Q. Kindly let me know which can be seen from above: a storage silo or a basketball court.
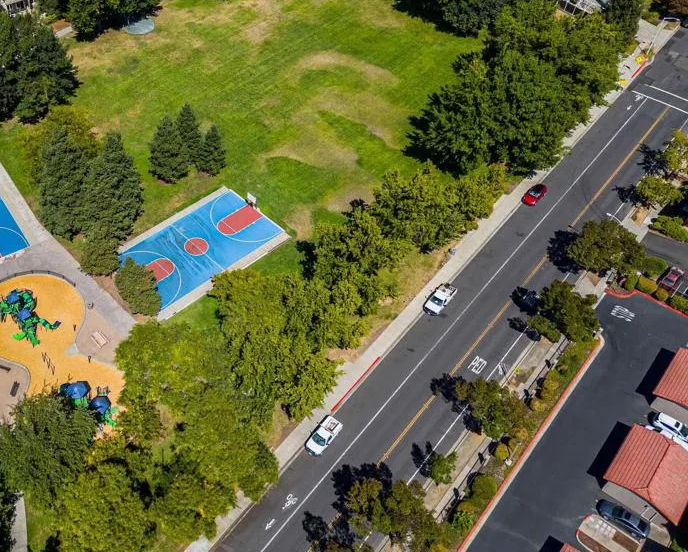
basketball court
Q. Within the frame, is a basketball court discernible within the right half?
No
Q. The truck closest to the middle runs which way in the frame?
on a diagonal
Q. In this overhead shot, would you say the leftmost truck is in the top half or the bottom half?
bottom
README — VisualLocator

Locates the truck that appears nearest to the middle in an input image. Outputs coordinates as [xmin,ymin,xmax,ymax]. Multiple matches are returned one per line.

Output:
[424,279,459,314]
